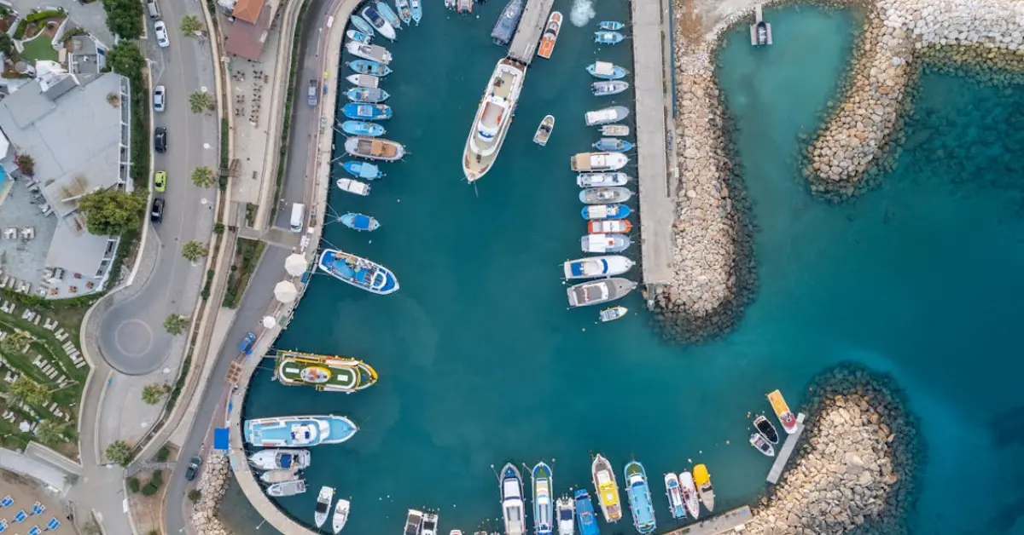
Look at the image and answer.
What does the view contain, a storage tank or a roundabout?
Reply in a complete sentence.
The image shows a roundabout.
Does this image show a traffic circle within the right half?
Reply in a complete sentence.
No, I can find no traffic circle within the right half.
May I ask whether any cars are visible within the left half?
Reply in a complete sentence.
Yes, within the left half there is a car.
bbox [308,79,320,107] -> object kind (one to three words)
vehicle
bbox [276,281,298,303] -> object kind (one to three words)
umbrella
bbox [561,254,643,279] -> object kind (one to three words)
boat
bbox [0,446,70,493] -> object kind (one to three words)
building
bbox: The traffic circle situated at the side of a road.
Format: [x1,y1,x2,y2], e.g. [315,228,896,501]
[98,303,171,375]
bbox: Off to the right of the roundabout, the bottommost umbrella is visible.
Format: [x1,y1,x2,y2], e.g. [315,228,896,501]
[264,315,278,329]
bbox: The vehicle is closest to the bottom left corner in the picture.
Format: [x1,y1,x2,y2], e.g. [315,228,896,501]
[184,454,204,482]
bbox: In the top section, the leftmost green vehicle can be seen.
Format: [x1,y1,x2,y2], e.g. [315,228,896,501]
[155,171,169,192]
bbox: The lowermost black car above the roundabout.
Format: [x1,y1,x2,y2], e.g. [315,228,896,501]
[151,198,168,224]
